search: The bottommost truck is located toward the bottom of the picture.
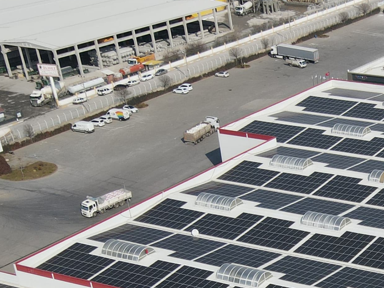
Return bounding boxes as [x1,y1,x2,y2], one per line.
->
[82,186,134,215]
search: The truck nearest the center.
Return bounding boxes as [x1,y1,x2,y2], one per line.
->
[183,115,225,144]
